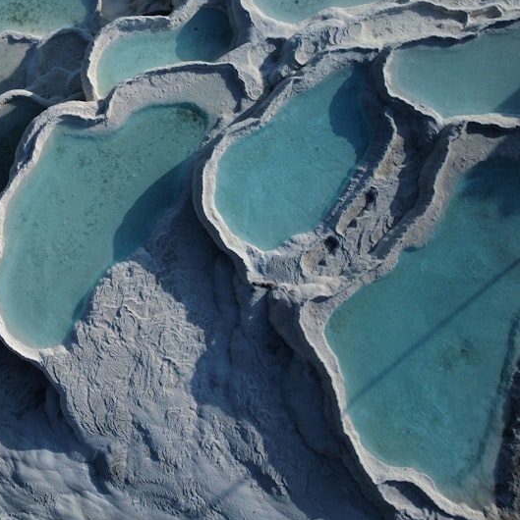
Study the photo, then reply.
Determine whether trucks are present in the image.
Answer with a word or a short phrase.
No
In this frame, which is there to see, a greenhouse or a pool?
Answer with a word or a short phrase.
pool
